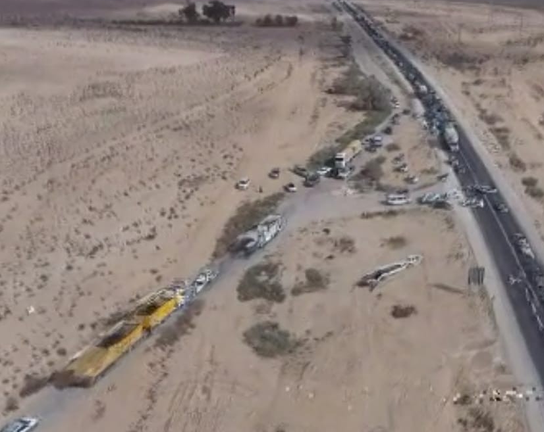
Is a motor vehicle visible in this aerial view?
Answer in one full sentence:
Yes, there's a motor vehicle down there.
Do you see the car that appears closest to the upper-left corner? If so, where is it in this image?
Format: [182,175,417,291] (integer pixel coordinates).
[235,175,252,189]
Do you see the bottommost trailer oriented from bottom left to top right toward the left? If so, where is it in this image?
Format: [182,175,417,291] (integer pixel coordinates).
[60,316,153,384]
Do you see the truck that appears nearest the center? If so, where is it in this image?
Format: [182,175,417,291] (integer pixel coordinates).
[247,210,287,242]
